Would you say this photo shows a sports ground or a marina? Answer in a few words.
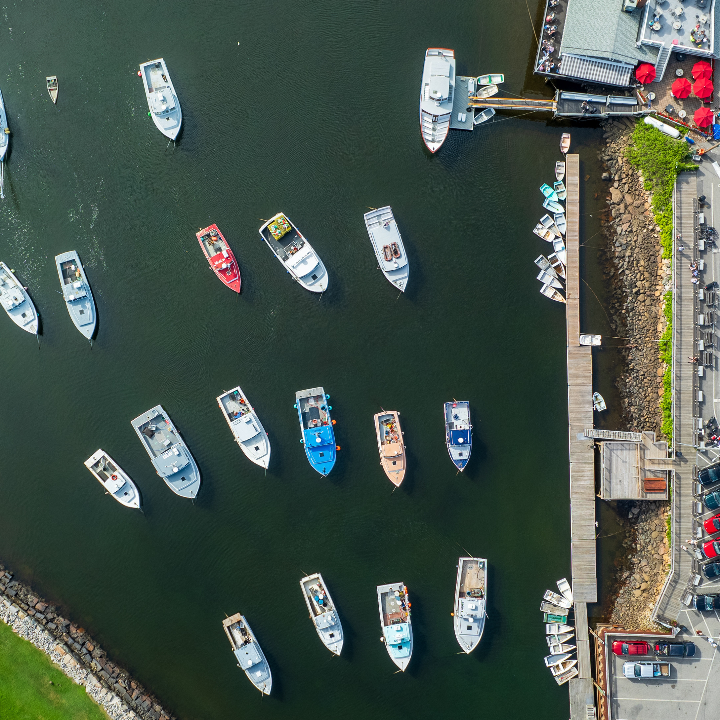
marina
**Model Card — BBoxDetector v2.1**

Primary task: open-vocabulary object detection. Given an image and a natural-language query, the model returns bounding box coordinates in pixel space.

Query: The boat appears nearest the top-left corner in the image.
[47,75,59,107]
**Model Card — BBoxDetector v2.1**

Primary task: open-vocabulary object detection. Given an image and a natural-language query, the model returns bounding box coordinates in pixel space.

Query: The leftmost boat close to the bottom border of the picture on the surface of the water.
[222,612,271,698]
